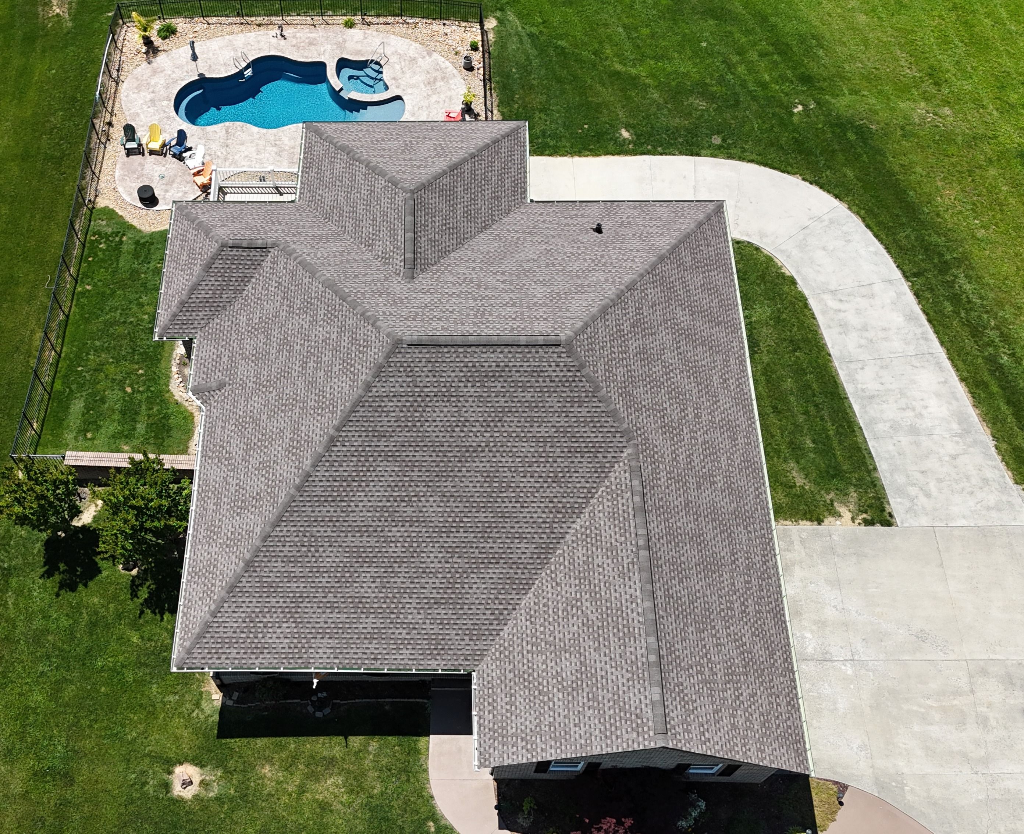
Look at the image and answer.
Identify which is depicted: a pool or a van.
pool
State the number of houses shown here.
1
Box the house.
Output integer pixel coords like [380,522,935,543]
[152,119,815,783]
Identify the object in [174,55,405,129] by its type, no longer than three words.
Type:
swimming pool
